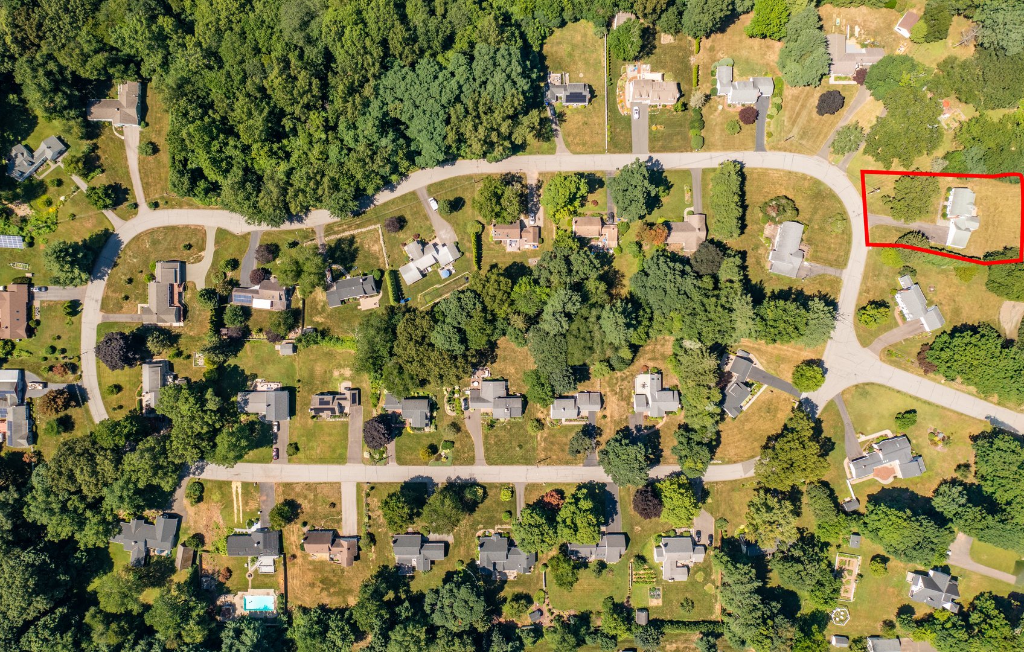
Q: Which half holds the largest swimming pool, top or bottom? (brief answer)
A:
bottom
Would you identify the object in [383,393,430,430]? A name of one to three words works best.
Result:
house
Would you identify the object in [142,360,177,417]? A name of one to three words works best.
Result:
house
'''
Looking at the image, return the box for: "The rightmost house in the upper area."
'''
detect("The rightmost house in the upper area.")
[943,186,982,250]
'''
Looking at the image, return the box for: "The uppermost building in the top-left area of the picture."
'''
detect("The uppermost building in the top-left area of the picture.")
[83,79,143,126]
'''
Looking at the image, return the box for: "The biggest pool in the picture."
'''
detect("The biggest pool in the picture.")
[236,589,278,617]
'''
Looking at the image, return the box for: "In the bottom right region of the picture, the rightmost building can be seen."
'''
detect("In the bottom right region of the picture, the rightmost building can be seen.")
[903,562,962,614]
